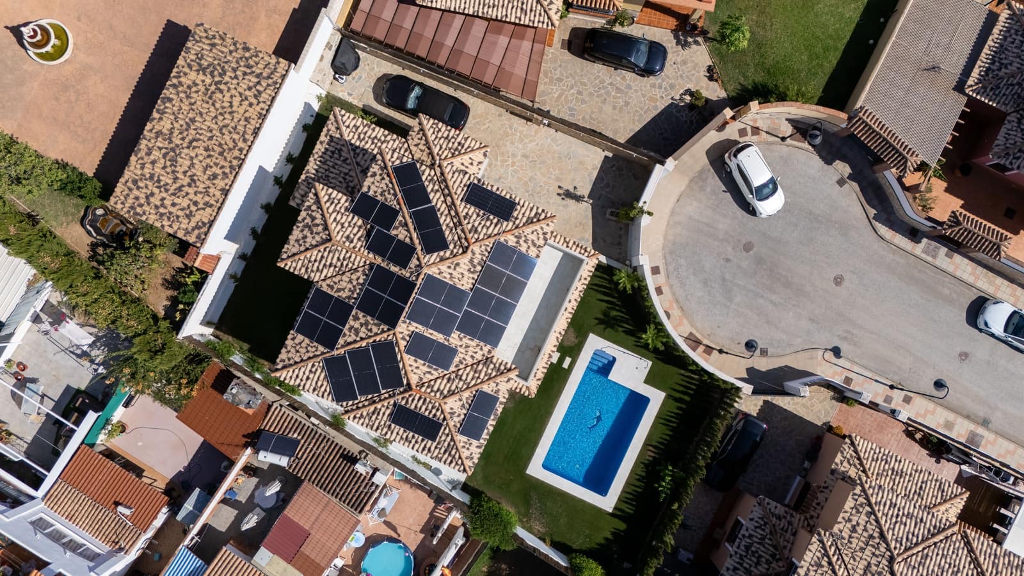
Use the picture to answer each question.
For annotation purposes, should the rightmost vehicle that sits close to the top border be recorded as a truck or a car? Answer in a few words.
car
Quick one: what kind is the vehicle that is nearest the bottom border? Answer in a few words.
automobile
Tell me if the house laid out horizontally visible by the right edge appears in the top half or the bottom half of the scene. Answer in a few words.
bottom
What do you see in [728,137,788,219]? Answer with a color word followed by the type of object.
white car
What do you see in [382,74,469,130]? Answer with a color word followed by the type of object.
black car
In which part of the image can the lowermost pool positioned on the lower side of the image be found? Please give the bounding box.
[359,528,419,576]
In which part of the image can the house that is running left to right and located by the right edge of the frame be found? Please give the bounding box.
[709,434,1024,576]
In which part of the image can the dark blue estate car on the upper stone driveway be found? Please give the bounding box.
[582,21,671,79]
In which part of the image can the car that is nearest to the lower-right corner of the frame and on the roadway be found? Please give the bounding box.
[981,305,1024,353]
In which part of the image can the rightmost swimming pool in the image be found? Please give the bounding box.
[526,334,665,512]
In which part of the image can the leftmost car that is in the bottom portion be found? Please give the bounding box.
[704,412,773,498]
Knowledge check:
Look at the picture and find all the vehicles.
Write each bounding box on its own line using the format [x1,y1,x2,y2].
[704,412,773,498]
[382,74,469,130]
[728,137,788,219]
[582,21,671,79]
[981,305,1024,353]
